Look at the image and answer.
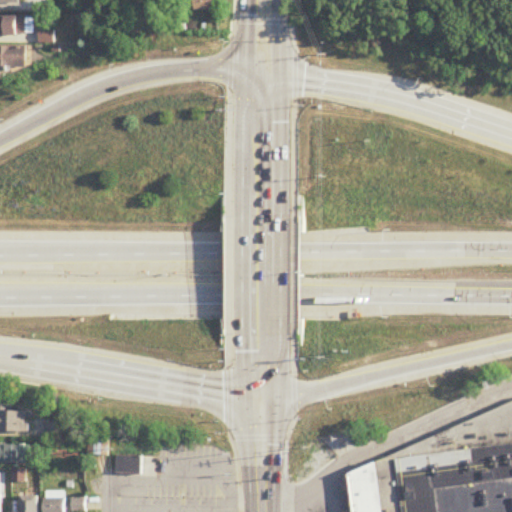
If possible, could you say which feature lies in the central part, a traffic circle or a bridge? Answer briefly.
bridge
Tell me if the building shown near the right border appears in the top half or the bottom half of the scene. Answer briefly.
bottom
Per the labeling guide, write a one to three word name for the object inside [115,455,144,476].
building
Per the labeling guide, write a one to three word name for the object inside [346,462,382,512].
building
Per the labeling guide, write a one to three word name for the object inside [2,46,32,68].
house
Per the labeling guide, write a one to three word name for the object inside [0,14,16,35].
house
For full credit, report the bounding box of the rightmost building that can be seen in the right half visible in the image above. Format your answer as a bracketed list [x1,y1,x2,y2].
[395,443,512,512]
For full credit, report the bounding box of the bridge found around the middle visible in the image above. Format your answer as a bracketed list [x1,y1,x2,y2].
[221,192,305,350]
